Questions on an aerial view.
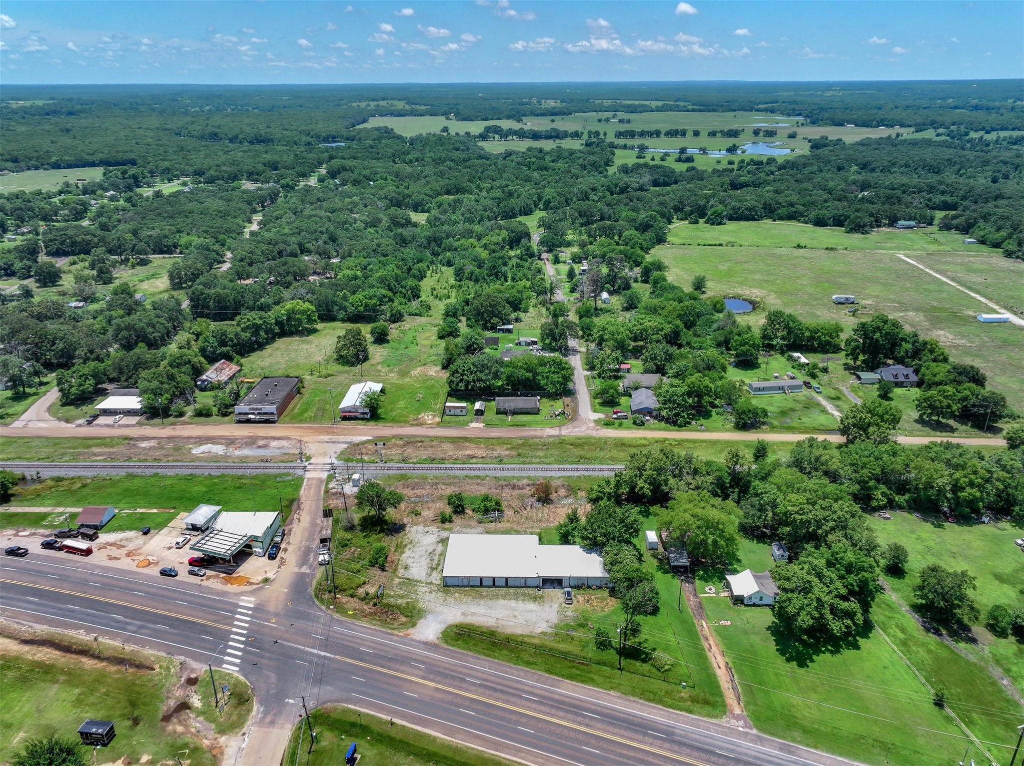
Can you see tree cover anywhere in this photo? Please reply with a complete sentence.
Yes, tree cover can be seen from above here.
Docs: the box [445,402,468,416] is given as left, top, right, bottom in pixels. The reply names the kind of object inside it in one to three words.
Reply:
shed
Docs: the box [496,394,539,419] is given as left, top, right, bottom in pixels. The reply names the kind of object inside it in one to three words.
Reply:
house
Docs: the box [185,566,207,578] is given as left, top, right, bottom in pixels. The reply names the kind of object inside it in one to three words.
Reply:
vehicle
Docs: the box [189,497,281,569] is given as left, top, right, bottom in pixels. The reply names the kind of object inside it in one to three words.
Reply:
gas station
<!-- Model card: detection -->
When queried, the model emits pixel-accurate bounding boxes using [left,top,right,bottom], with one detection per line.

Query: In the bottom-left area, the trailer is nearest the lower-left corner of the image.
[77,719,115,746]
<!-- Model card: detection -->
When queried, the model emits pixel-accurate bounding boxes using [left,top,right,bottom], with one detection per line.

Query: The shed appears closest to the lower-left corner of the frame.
[75,507,115,532]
